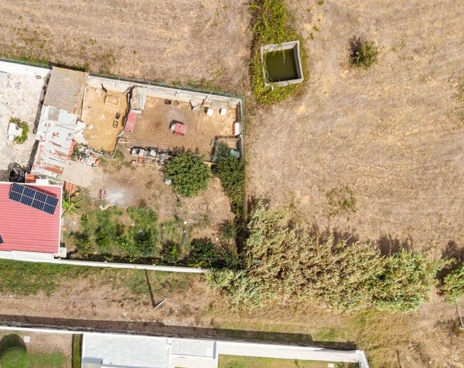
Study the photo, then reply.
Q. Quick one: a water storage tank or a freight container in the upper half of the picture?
water storage tank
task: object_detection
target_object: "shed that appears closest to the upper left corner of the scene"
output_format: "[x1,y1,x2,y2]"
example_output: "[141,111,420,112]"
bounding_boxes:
[44,67,87,114]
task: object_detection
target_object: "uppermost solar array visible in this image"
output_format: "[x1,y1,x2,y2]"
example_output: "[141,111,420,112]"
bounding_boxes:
[9,183,58,214]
